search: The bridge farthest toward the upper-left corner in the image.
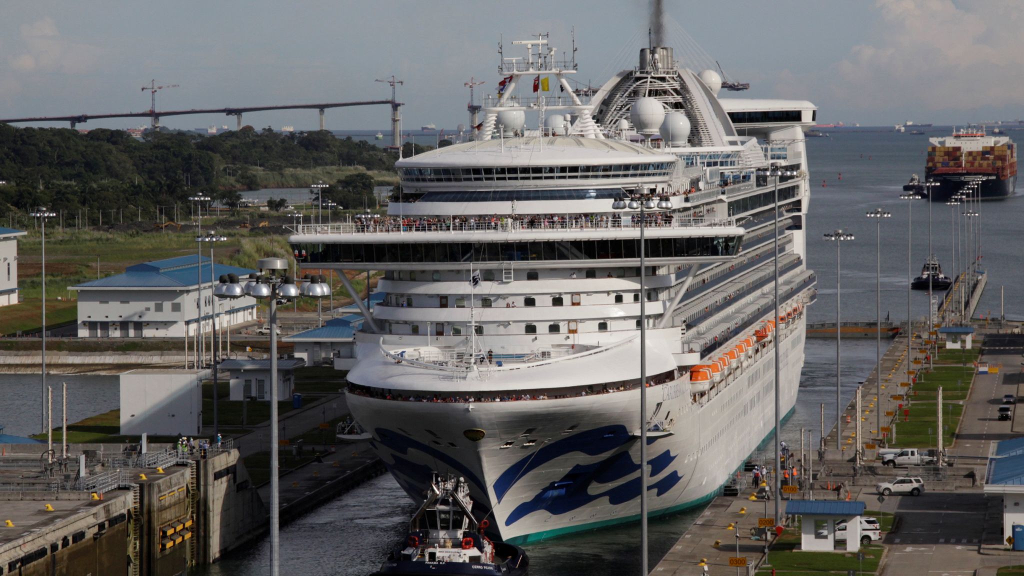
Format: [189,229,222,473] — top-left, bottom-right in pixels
[0,99,405,165]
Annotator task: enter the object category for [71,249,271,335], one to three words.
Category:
building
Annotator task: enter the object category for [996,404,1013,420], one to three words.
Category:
car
